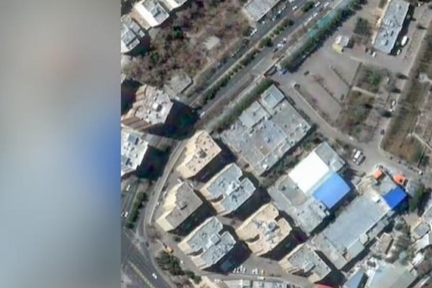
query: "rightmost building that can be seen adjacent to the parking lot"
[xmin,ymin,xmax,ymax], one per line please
[371,0,410,55]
